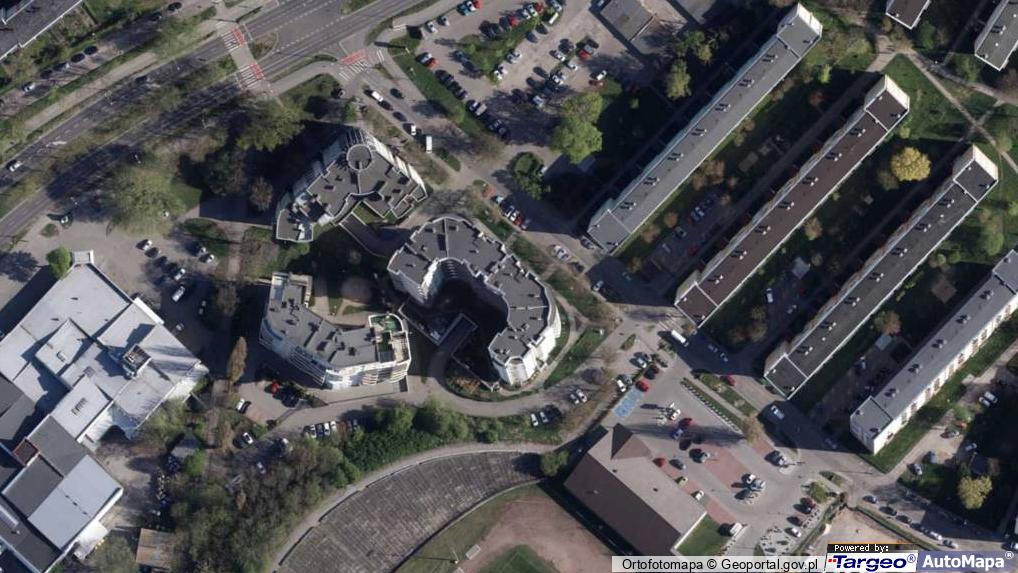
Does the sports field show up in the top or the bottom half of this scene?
bottom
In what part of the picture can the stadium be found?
bottom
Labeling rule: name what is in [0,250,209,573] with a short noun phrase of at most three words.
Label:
building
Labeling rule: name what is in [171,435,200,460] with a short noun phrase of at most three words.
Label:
shed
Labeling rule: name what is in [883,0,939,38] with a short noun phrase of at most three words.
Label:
building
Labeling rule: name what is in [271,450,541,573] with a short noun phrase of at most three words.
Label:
stadium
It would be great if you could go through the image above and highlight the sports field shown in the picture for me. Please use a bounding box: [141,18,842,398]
[460,495,638,573]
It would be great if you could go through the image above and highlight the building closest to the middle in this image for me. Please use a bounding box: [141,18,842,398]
[388,217,557,378]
